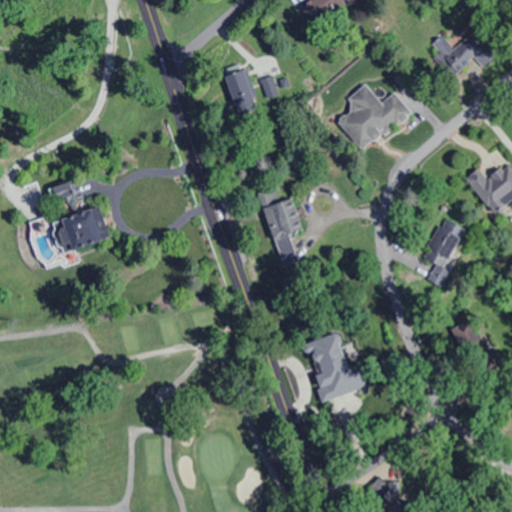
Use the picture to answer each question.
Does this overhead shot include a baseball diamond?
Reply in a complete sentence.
No, no baseball diamond is visible in the view.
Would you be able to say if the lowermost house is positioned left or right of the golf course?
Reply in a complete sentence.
Relative to the golf course, the lowermost house is on the right.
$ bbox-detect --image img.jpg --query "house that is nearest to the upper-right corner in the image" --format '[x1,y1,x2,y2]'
[432,36,491,75]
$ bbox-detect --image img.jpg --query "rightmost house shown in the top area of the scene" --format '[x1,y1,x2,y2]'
[464,165,512,212]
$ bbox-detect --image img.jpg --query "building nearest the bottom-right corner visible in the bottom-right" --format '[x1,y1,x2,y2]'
[370,477,404,512]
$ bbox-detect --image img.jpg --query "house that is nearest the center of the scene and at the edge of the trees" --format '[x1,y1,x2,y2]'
[258,192,302,238]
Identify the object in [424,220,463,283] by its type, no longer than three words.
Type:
house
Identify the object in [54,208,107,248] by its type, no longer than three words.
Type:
house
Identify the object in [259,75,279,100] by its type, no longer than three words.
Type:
building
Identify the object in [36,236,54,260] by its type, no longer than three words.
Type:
swimming pool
